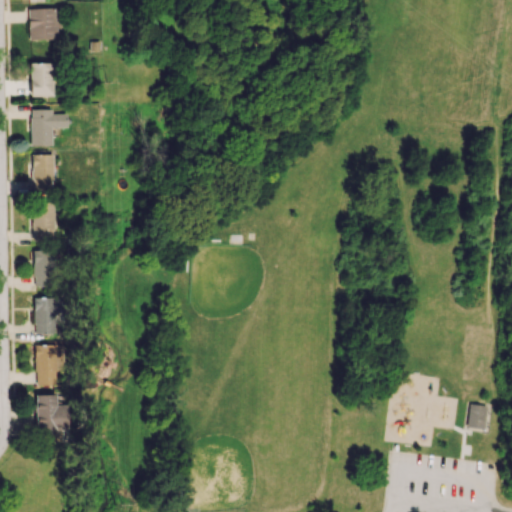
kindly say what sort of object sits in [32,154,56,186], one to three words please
house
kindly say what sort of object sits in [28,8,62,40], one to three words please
house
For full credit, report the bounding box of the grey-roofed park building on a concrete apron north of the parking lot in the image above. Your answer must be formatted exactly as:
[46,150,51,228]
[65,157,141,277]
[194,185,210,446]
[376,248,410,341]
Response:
[467,402,487,430]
